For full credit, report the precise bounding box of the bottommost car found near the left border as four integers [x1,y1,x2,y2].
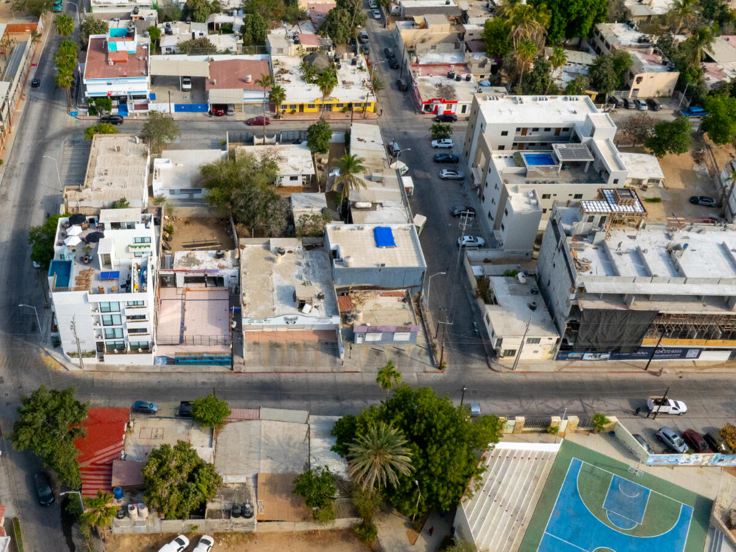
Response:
[32,468,56,508]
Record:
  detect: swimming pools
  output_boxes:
[523,154,553,165]
[51,262,70,288]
